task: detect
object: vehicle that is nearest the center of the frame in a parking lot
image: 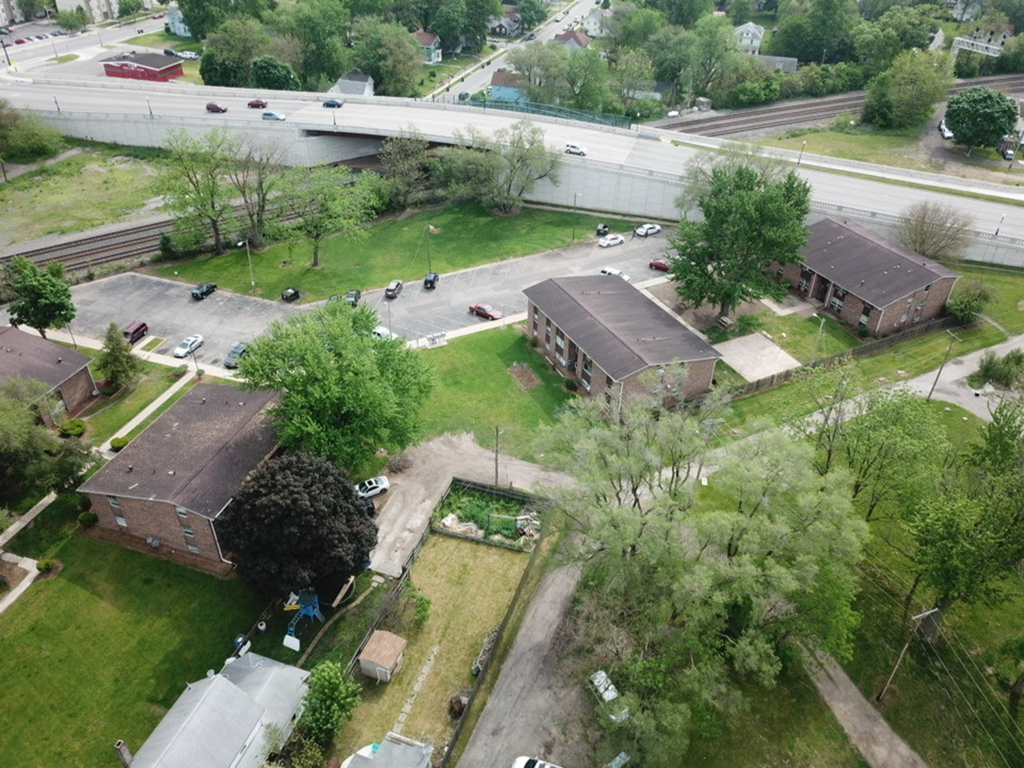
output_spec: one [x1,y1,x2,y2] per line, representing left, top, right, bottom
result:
[469,301,502,318]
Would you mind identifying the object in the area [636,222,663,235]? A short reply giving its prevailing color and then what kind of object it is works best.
white vehicle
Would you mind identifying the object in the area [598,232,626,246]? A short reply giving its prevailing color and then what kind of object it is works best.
white car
